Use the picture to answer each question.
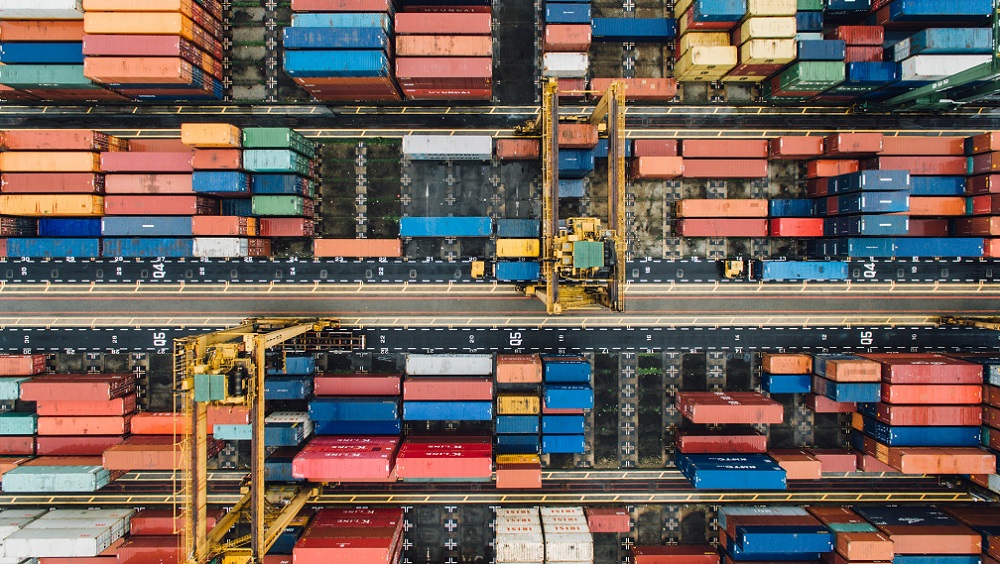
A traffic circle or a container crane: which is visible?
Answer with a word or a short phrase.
container crane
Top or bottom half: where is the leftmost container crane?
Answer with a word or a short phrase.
bottom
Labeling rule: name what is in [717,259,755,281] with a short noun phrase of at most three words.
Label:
work vehicle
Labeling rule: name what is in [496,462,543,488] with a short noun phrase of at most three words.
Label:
shipping container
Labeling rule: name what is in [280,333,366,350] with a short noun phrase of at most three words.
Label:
trailer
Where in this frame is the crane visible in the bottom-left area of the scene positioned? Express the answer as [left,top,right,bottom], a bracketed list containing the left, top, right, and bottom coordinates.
[174,315,342,564]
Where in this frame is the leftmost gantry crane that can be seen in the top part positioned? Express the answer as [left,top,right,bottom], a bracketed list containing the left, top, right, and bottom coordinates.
[513,74,628,317]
